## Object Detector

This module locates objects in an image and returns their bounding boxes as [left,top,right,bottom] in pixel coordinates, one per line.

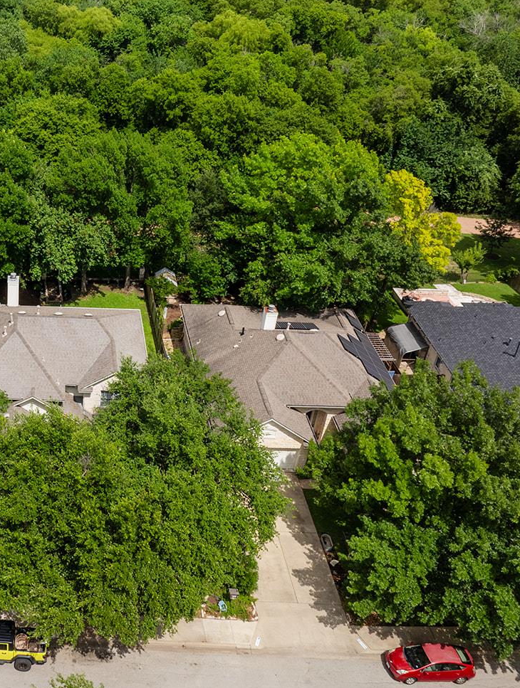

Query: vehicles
[0,619,50,671]
[385,638,484,686]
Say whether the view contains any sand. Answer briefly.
No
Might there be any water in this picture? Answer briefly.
No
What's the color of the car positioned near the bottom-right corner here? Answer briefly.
red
